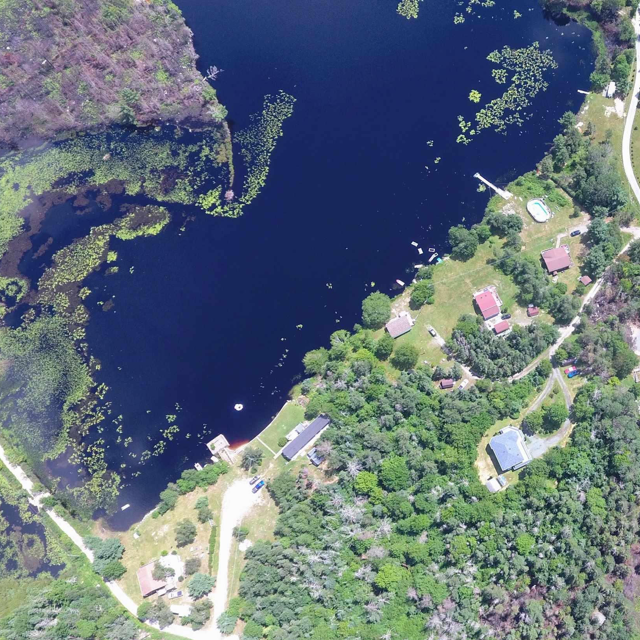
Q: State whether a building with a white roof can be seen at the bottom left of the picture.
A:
Yes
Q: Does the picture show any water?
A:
Yes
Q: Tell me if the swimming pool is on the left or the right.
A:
right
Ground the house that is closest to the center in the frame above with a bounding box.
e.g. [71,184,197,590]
[387,309,415,339]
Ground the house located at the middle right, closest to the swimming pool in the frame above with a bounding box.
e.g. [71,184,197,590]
[540,243,574,275]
